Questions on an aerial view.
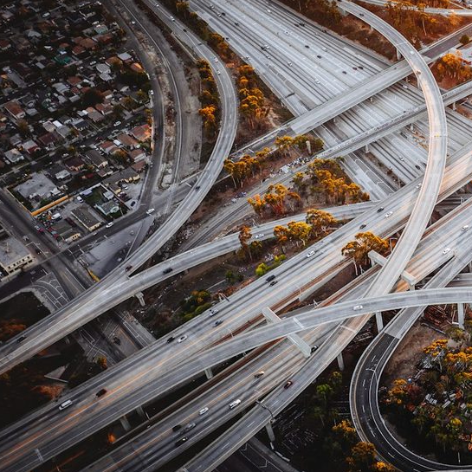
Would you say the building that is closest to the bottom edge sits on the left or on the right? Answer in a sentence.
The building that is closest to the bottom edge sits on the left side.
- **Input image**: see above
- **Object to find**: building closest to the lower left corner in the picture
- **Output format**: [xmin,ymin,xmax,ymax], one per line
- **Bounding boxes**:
[0,232,39,279]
